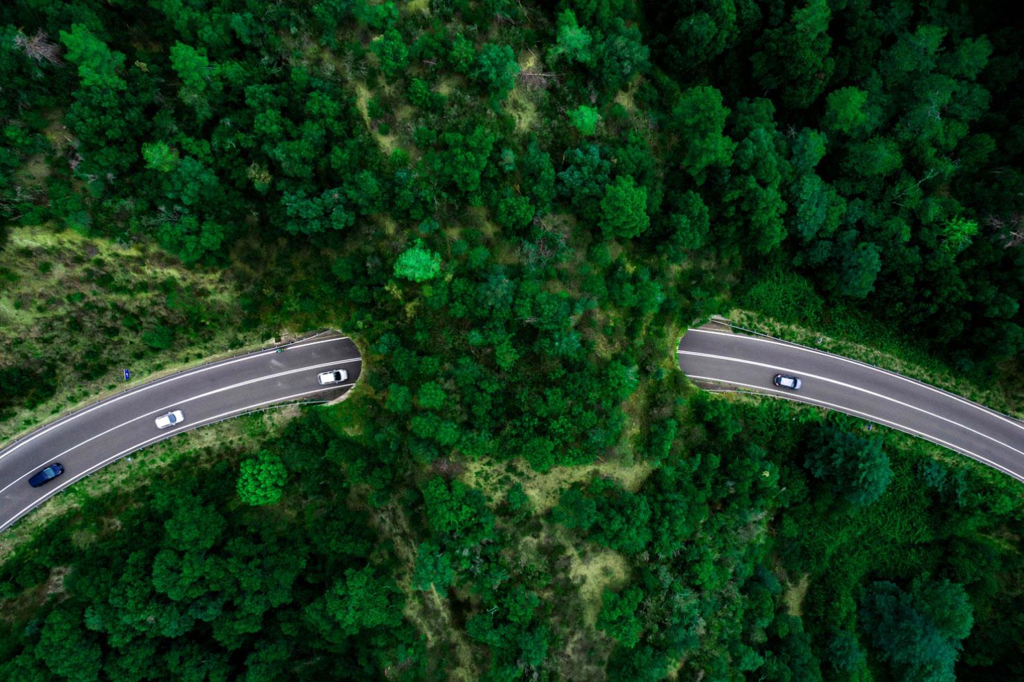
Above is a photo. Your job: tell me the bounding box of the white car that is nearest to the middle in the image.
[317,369,347,385]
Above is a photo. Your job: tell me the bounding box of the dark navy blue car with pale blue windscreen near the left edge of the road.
[27,464,61,488]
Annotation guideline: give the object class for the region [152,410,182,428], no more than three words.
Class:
car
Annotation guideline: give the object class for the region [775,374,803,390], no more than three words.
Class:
car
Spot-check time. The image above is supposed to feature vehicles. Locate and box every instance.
[152,410,182,428]
[775,374,803,390]
[317,369,347,385]
[27,464,61,488]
